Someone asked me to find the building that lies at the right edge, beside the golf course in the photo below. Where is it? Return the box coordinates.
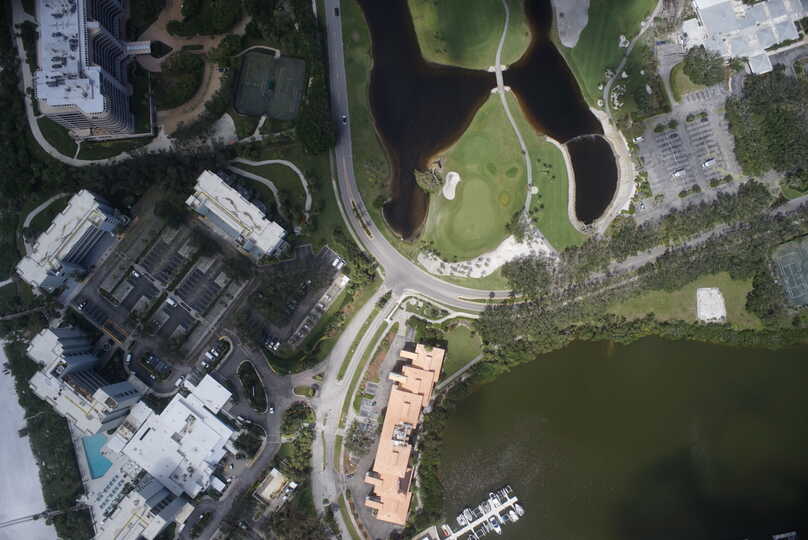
[678,0,808,73]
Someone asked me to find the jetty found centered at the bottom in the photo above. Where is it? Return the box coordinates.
[437,486,520,540]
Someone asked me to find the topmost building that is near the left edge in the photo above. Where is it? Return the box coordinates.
[35,0,152,141]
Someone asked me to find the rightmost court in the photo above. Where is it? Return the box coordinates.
[773,238,808,306]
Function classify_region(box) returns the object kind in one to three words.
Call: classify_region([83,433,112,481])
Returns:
swimming pool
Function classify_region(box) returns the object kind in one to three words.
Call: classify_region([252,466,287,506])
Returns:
building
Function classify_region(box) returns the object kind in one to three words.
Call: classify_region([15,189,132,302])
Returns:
building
